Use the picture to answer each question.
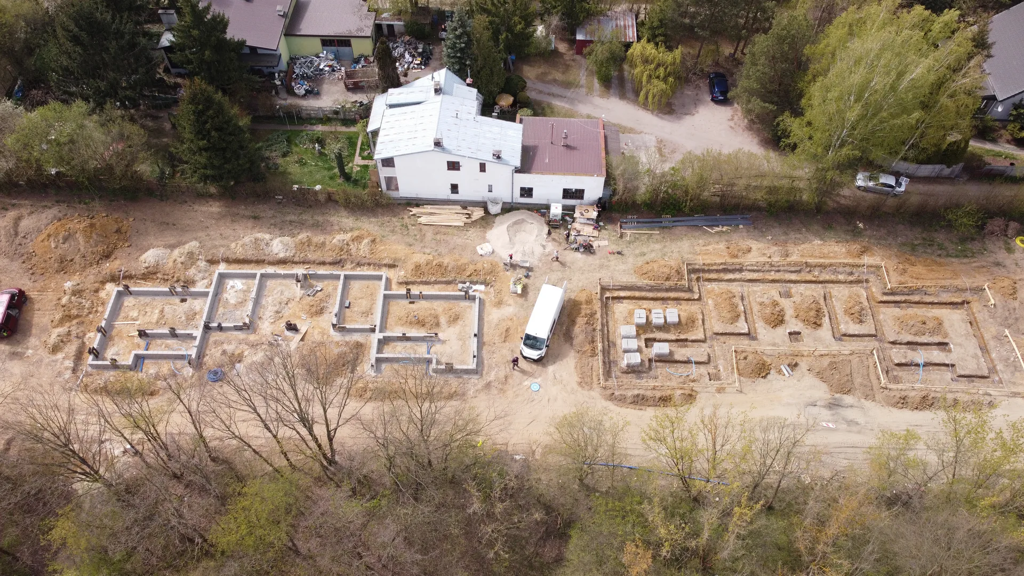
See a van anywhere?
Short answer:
Yes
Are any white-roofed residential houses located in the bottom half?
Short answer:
No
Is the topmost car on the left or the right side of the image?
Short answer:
right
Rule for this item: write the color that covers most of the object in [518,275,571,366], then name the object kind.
white van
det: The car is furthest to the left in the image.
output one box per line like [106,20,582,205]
[0,289,28,342]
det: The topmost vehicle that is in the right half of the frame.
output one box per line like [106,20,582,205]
[703,70,729,105]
